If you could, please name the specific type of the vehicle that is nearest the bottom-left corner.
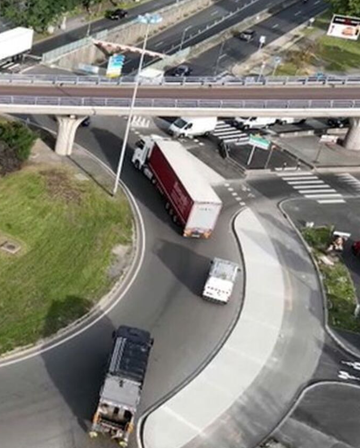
truck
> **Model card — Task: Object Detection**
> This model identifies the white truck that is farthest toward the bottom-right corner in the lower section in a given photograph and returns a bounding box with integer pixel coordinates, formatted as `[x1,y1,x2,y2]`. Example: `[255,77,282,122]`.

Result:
[203,257,241,304]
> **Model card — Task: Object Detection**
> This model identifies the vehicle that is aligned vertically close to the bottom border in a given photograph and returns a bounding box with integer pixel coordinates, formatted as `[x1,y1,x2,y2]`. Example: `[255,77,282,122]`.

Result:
[92,338,154,443]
